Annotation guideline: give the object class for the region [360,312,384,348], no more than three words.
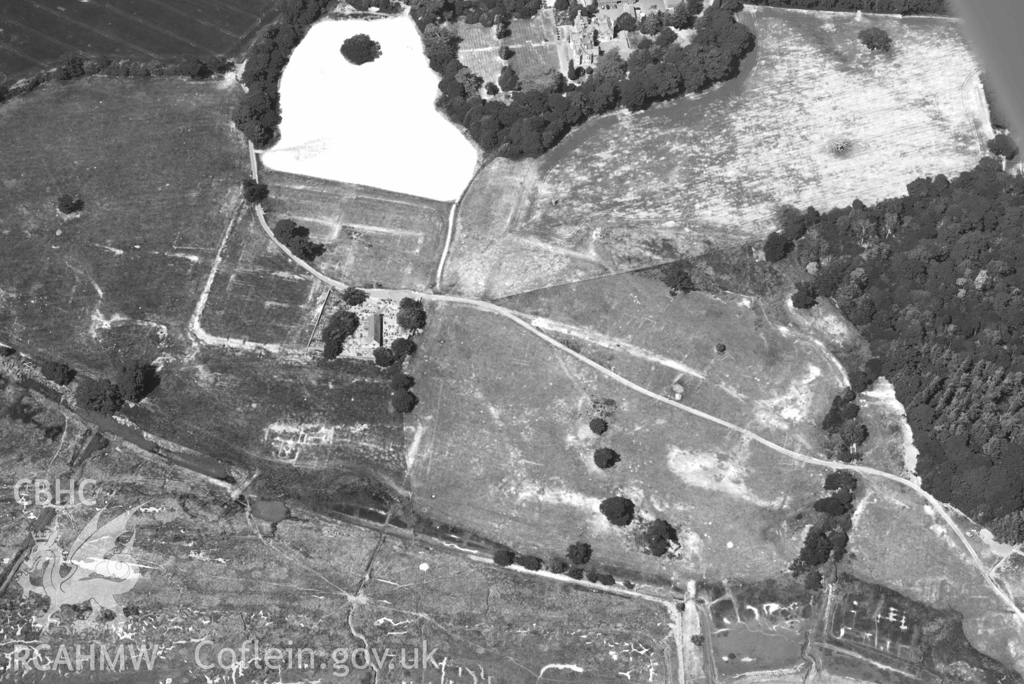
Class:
building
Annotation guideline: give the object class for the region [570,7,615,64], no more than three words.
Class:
house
